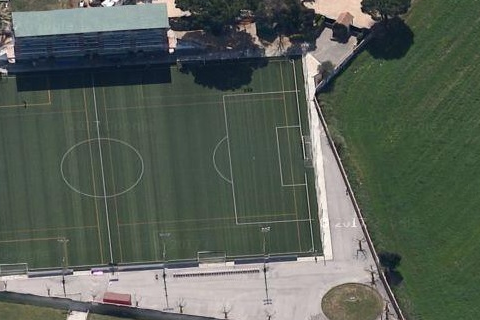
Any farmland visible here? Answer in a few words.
Yes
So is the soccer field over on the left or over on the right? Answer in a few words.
left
